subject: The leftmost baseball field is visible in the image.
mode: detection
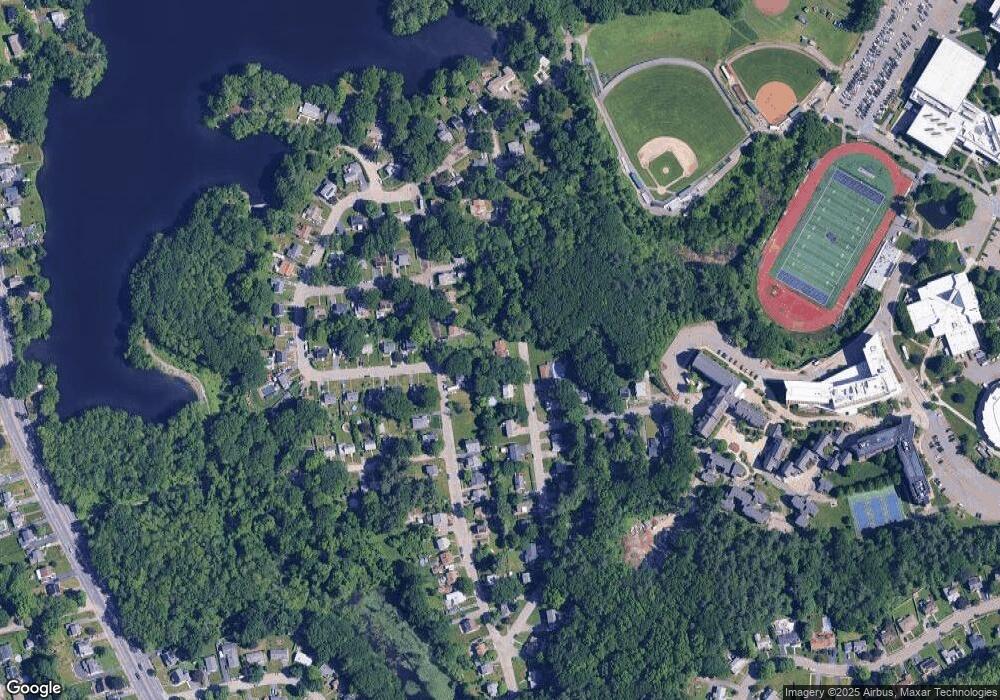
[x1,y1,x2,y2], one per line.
[597,57,755,216]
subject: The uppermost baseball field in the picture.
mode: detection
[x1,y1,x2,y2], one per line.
[720,39,846,134]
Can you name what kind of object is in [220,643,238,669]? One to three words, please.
house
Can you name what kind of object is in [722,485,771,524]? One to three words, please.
building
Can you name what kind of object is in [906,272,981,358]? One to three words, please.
building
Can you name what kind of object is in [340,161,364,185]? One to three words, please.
house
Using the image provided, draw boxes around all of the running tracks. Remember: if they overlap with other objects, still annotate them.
[757,145,915,330]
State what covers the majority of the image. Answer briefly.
trees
